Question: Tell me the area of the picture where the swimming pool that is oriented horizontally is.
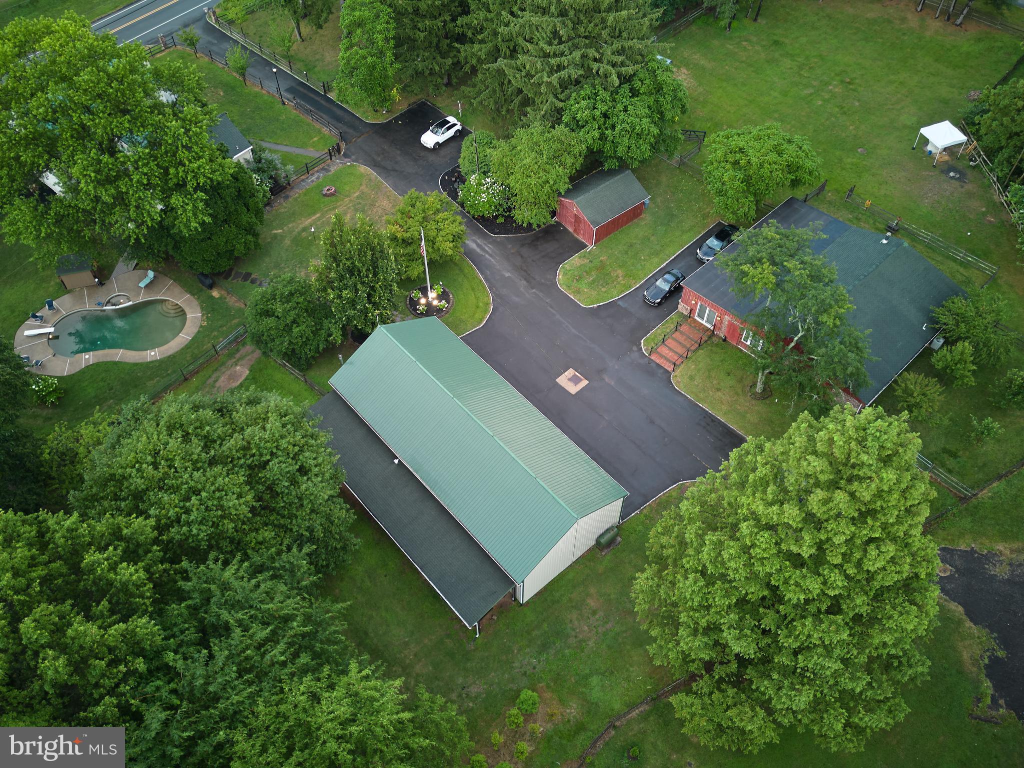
left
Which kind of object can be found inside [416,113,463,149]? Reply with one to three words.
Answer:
car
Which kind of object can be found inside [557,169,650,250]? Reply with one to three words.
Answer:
shed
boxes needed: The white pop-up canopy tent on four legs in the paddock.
[911,117,968,168]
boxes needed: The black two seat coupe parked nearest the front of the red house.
[642,261,690,303]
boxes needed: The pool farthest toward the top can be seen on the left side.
[15,270,201,376]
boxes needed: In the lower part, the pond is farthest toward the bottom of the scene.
[925,549,1024,723]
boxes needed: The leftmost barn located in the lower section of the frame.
[298,316,631,648]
